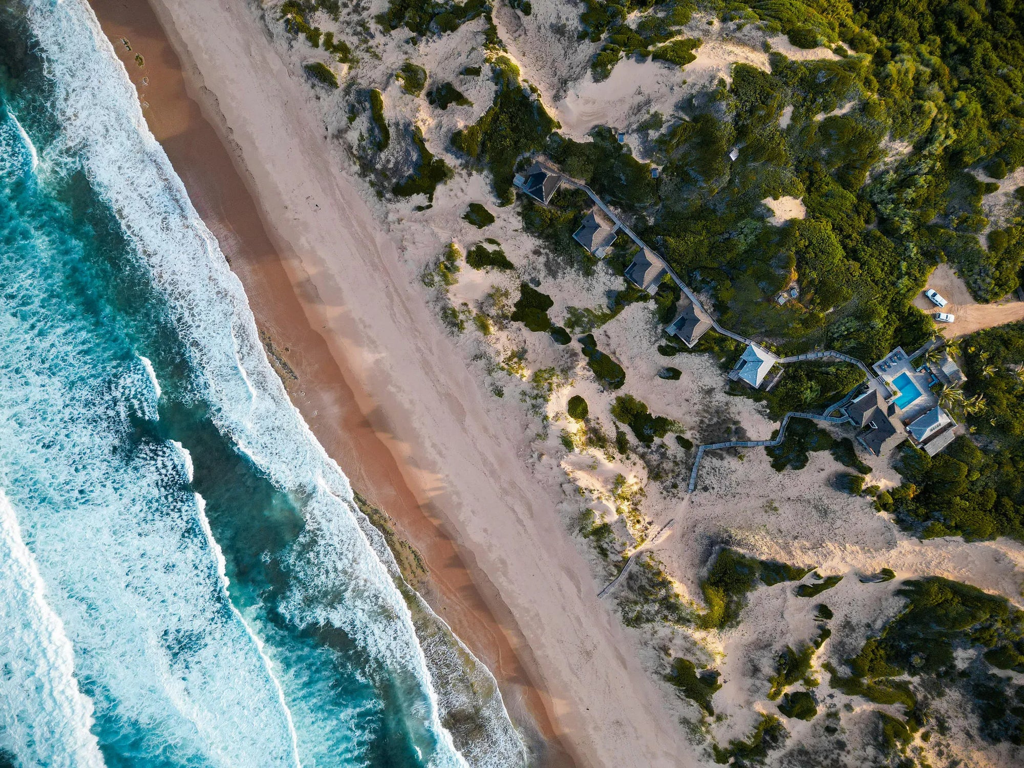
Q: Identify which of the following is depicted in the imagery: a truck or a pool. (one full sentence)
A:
The one in the frame is a pool.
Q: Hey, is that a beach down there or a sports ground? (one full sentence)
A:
The area seen from above is a beach.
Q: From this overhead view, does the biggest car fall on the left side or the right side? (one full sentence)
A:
It is on the right.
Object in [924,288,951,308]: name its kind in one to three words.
car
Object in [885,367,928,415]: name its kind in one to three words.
swimming pool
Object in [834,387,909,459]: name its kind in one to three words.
building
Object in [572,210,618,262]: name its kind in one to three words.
house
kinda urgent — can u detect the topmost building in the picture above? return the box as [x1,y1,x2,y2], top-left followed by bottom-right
[513,158,564,206]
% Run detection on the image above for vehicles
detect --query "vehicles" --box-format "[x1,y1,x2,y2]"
[924,288,951,308]
[934,313,953,323]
